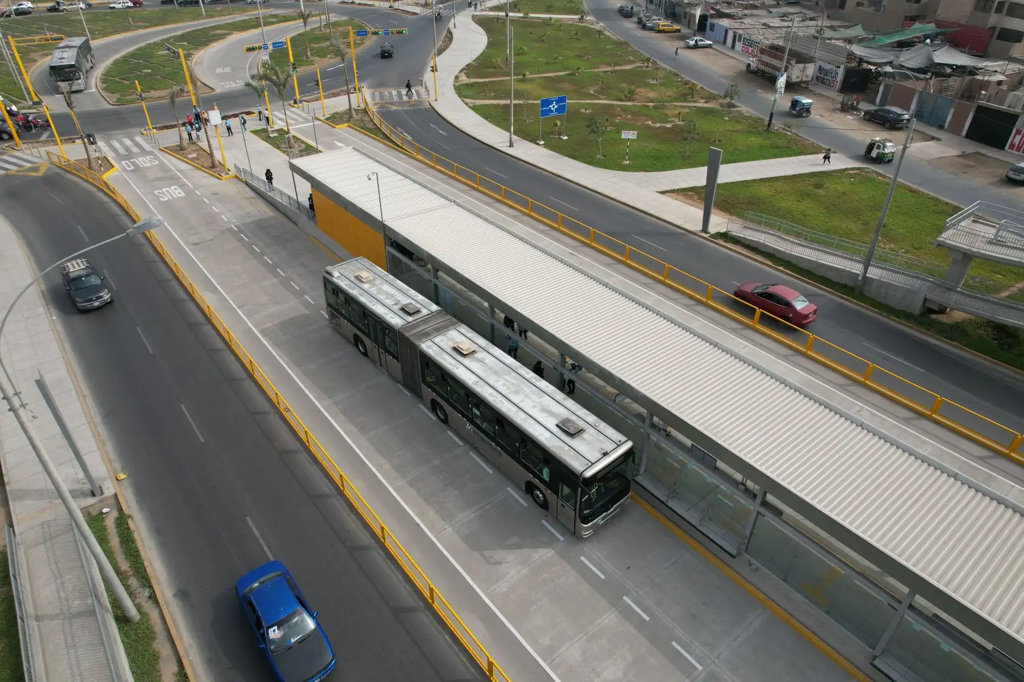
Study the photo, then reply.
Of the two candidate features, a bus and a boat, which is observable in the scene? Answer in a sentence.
I can see a bus in this picture.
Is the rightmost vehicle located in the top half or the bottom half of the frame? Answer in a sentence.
Seen from above, the rightmost vehicle lies in the top half of the view.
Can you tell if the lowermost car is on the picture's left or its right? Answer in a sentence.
You can find the lowermost car on the left side of the picture.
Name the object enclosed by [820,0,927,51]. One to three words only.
building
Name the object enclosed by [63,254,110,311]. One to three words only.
car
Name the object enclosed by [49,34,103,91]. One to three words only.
bus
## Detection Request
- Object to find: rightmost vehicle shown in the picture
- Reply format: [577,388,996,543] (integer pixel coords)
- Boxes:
[995,156,1024,188]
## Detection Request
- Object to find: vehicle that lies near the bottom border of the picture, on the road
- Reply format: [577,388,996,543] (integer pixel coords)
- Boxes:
[240,557,338,682]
